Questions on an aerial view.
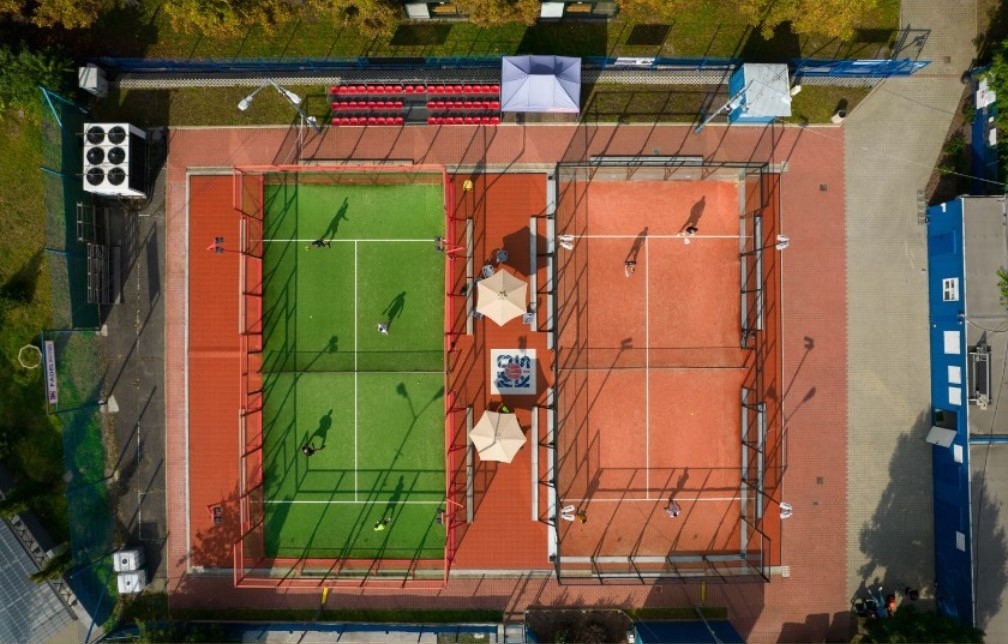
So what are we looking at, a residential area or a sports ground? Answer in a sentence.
The area seen from above is a sports ground.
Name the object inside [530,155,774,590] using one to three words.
sports court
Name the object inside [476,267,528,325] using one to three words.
umbrella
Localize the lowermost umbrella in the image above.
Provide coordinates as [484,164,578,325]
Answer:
[470,410,528,462]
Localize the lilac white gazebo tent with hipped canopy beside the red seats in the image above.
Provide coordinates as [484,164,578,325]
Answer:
[501,55,581,125]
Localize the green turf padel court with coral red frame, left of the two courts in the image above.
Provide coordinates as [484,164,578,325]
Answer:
[228,157,473,592]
